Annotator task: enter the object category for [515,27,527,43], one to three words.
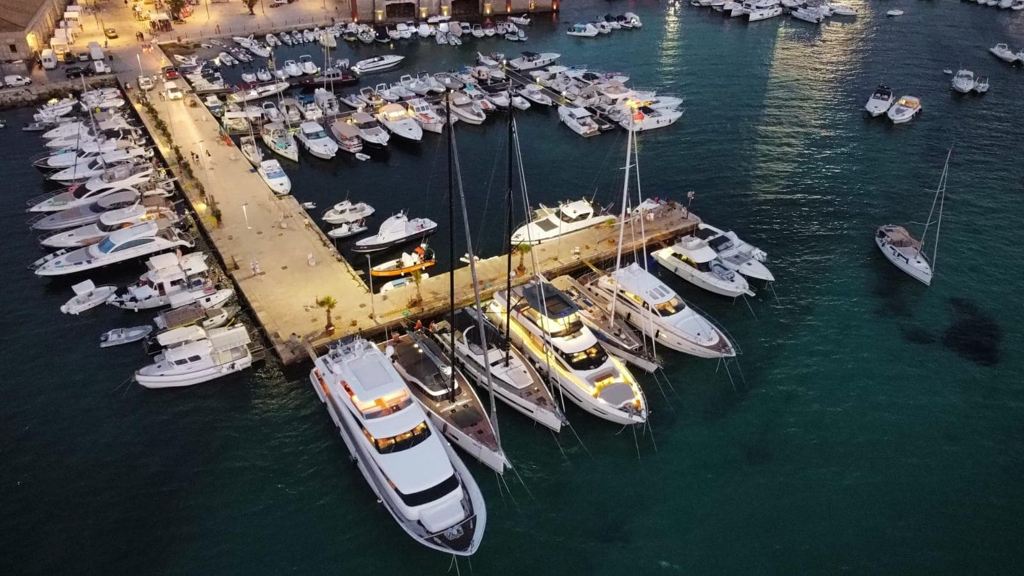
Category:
boat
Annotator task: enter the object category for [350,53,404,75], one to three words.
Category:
boat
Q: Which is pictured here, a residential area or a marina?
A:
marina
